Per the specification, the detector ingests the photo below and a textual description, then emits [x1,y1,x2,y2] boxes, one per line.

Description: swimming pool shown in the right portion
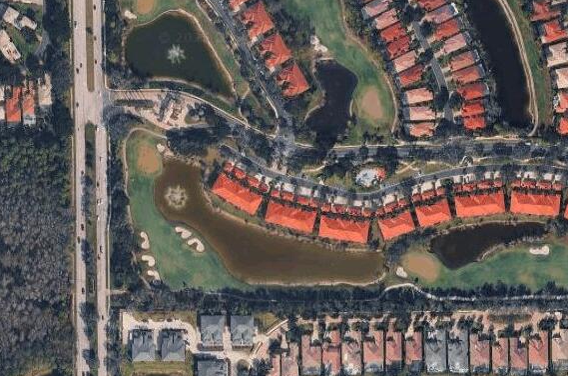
[355,167,379,187]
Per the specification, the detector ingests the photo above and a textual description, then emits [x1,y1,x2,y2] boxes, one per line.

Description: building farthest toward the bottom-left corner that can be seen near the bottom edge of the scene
[131,329,154,361]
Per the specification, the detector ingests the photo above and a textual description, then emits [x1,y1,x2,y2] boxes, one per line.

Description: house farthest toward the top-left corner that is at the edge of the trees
[0,4,36,30]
